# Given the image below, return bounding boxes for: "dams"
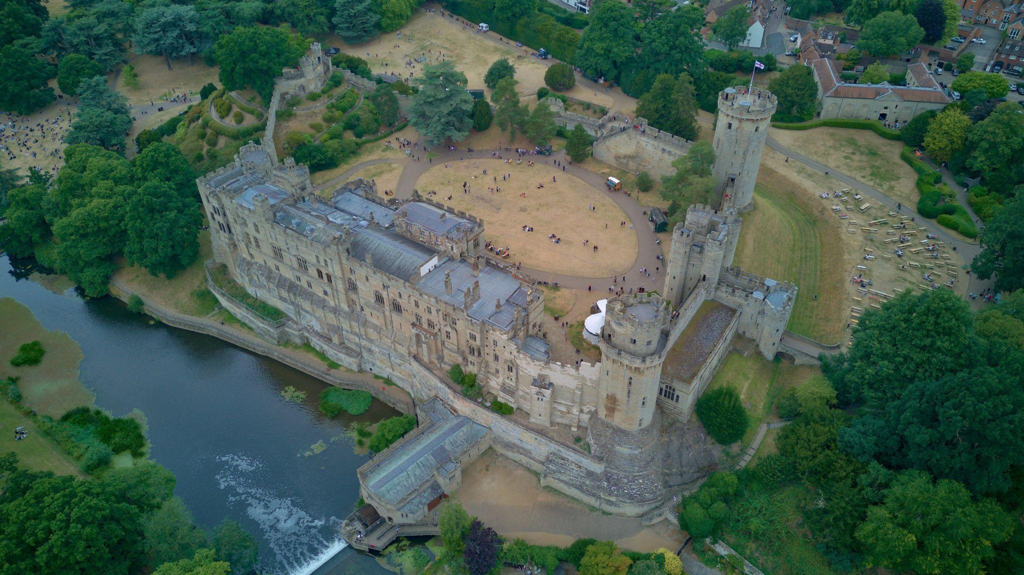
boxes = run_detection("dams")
[285,532,345,575]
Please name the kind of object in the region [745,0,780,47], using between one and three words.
house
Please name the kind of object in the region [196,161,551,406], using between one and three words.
building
